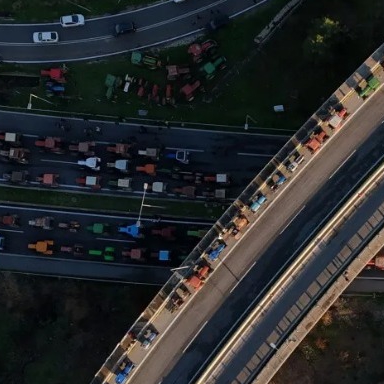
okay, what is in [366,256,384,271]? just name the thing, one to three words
work vehicle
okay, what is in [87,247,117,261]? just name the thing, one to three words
work vehicle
